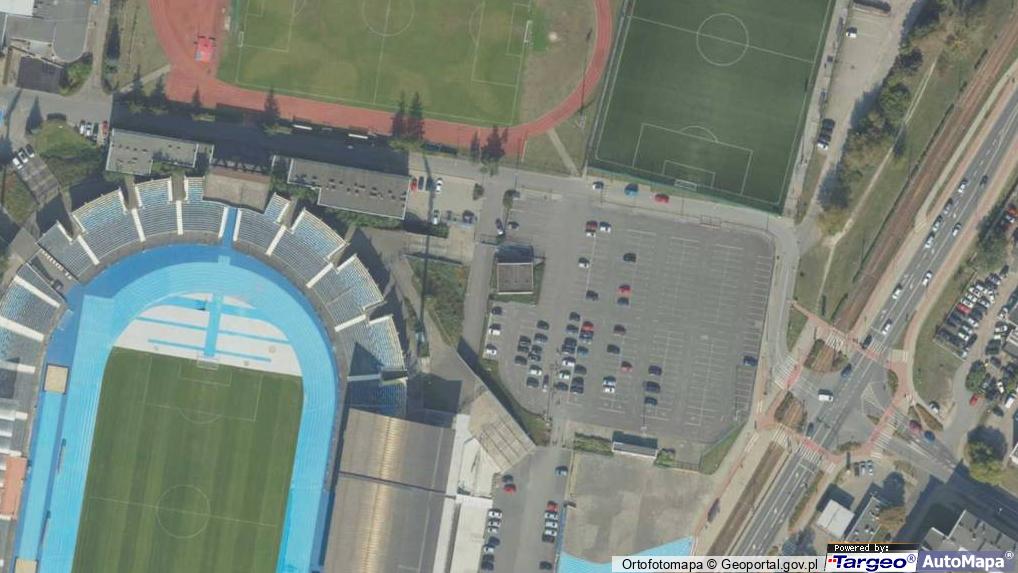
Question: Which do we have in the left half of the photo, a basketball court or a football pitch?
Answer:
football pitch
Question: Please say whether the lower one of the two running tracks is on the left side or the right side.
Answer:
left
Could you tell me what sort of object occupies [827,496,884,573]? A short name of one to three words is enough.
building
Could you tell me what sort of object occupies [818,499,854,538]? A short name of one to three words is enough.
shed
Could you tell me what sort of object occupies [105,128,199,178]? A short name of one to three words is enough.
building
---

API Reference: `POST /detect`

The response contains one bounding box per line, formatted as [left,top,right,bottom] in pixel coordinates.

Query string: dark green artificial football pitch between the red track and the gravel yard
[580,0,838,217]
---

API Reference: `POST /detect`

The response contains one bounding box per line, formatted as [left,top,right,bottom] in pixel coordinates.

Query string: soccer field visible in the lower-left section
[70,346,304,573]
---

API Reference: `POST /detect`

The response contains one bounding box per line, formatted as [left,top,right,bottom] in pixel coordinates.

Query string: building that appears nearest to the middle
[497,262,534,295]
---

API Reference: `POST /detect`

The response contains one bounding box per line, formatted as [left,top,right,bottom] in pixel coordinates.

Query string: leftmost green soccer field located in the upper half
[235,0,532,122]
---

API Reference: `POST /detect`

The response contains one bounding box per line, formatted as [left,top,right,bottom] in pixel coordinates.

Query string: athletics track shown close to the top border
[147,0,613,157]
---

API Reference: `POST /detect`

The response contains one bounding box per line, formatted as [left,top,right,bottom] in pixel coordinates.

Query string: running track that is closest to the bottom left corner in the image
[10,243,338,573]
